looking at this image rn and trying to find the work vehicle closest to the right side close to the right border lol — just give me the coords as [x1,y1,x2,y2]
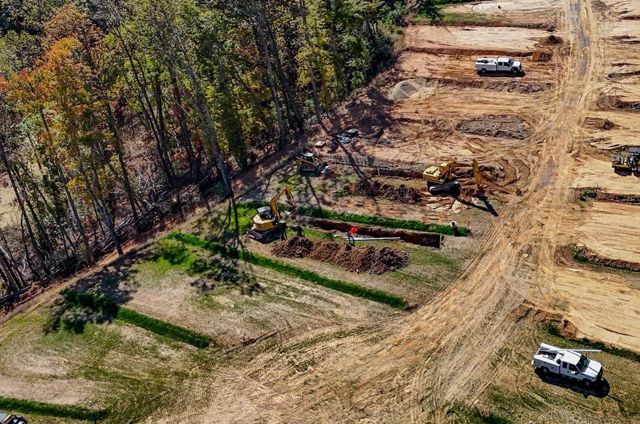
[609,138,640,168]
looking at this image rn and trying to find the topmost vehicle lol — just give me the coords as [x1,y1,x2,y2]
[474,52,523,70]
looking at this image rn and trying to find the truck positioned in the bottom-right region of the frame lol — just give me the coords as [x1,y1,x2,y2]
[530,338,608,385]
